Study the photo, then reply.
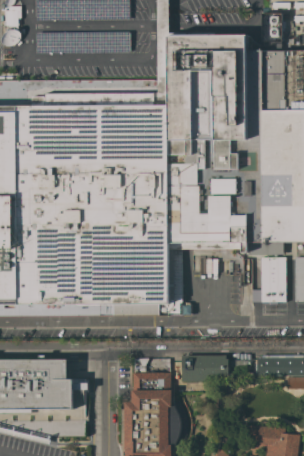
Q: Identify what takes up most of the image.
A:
buildings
